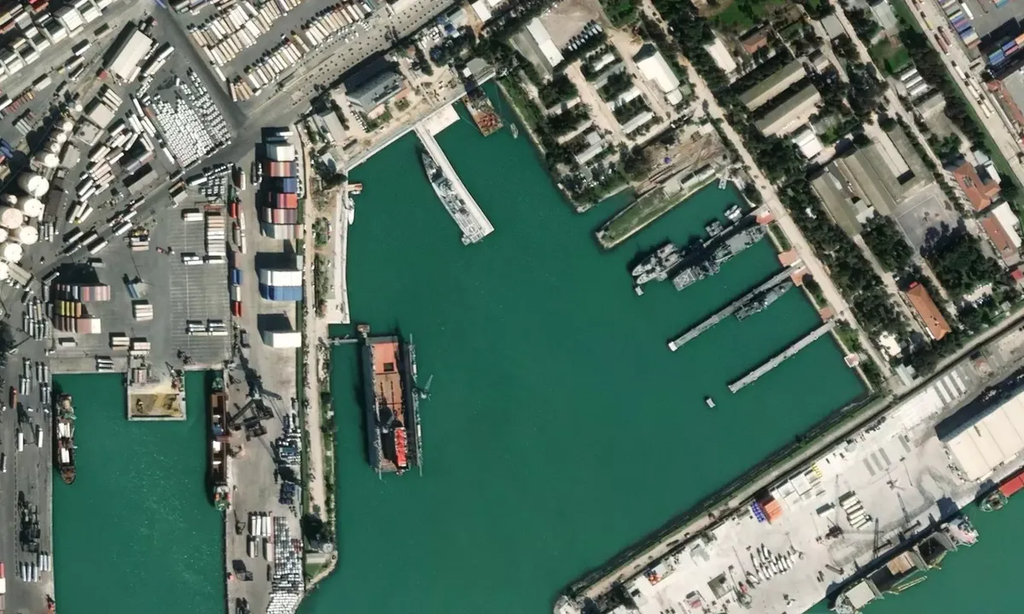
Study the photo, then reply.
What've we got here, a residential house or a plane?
residential house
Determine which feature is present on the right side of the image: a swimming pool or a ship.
ship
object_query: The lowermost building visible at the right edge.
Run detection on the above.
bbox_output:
[940,389,1024,481]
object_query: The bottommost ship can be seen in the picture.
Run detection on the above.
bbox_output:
[825,514,985,613]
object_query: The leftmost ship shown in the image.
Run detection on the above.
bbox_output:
[52,391,83,484]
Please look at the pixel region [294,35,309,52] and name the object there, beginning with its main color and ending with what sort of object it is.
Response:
white vehicle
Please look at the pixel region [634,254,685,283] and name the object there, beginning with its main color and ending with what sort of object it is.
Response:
gray ship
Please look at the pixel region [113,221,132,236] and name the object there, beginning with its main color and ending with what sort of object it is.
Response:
white vehicle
